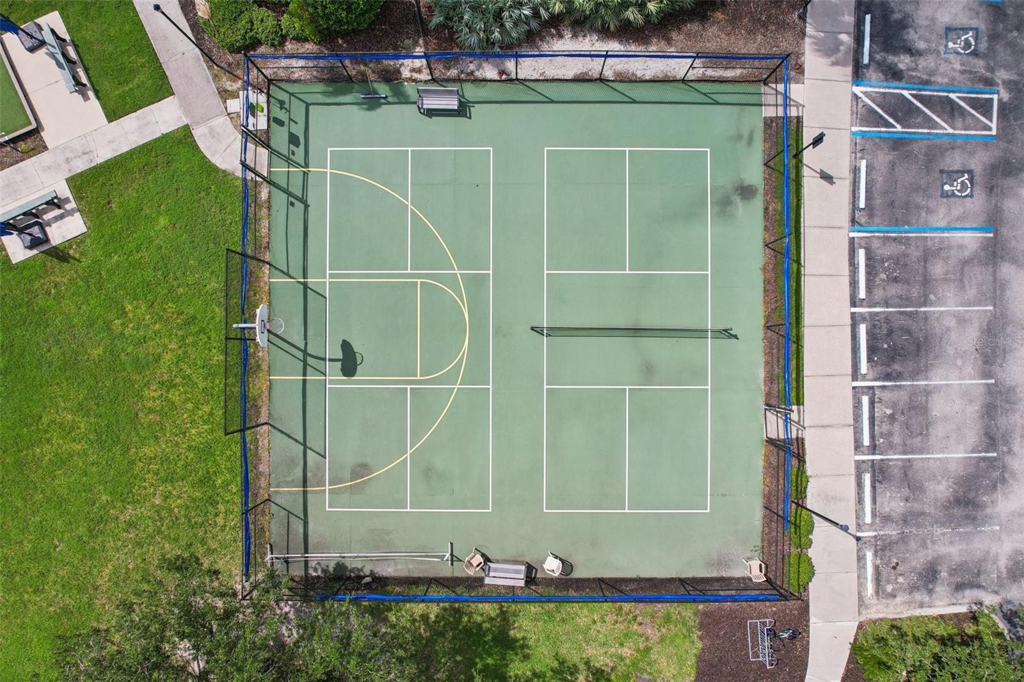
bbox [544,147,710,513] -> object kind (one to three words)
sports court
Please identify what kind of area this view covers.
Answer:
sports ground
